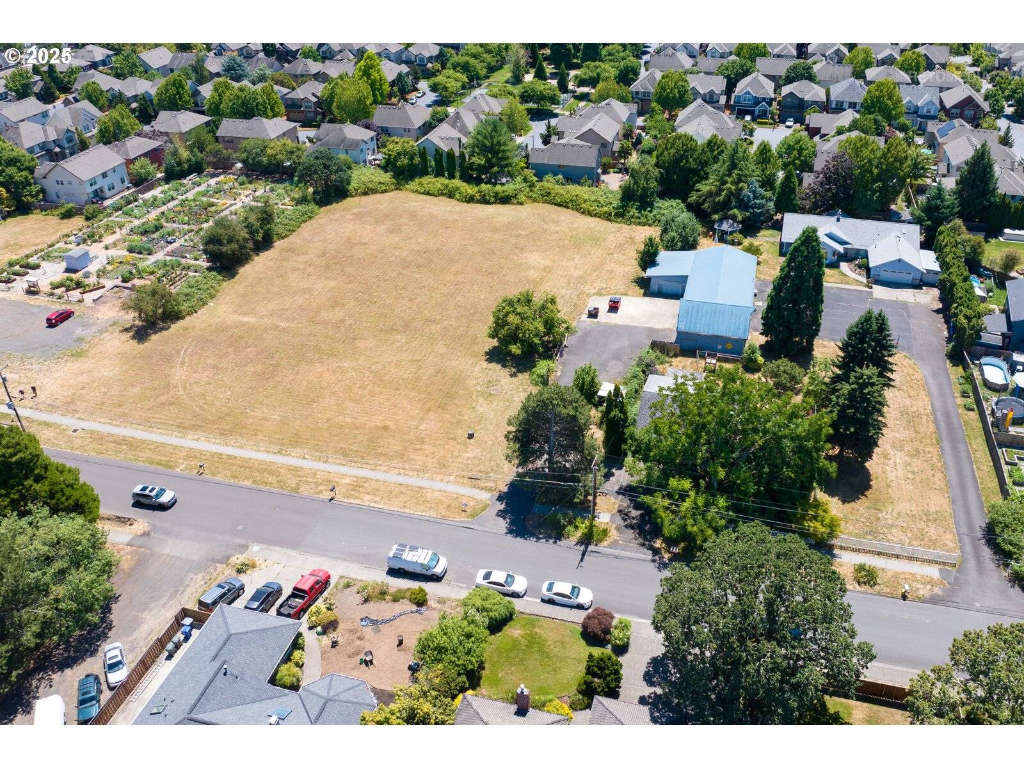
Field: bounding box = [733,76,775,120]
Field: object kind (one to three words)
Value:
house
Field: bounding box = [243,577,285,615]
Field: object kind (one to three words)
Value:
car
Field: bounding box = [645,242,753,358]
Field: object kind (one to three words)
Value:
barn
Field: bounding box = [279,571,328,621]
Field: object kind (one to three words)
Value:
truck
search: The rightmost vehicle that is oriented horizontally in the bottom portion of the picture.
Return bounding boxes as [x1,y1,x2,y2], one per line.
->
[540,582,594,610]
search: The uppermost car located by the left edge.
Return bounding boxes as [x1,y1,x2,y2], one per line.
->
[42,309,76,326]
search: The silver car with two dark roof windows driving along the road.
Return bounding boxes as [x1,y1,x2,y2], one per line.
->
[129,482,177,508]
